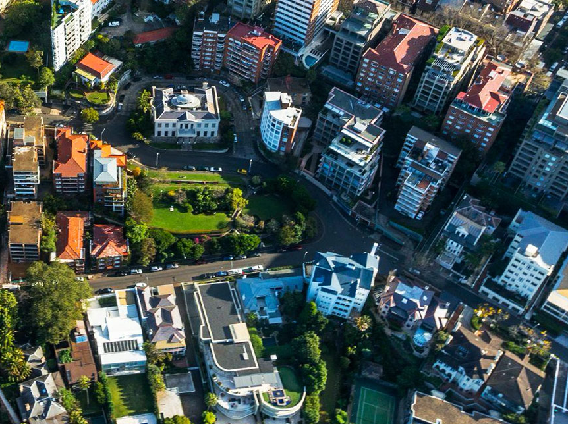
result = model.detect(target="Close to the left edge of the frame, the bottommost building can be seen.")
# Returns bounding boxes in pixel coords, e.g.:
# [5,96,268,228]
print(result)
[15,371,70,424]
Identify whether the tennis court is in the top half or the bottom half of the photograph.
bottom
